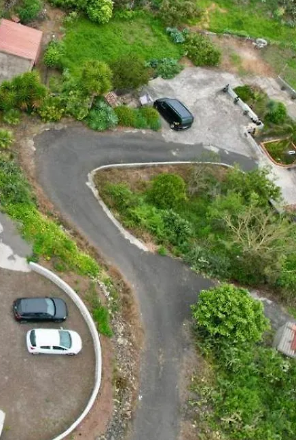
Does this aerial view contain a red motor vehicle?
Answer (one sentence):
No, I can't see a single red motor vehicle in this photo.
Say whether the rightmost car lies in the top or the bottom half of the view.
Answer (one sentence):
Seen from above, the rightmost car lies in the top half of the view.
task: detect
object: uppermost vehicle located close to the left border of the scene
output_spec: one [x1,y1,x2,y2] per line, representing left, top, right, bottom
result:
[12,295,69,324]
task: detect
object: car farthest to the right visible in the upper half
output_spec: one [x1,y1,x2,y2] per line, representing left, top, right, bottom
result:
[152,96,199,130]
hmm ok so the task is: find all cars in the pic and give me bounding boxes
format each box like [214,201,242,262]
[152,96,199,130]
[12,295,69,324]
[24,329,82,358]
